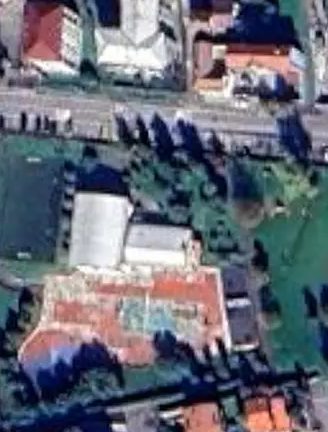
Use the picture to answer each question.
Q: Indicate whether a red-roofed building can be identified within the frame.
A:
Yes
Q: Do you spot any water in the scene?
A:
No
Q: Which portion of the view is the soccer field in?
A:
left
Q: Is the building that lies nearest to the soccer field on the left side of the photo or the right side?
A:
left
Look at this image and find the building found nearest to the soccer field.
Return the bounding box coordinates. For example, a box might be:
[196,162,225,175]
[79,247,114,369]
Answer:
[69,194,141,272]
